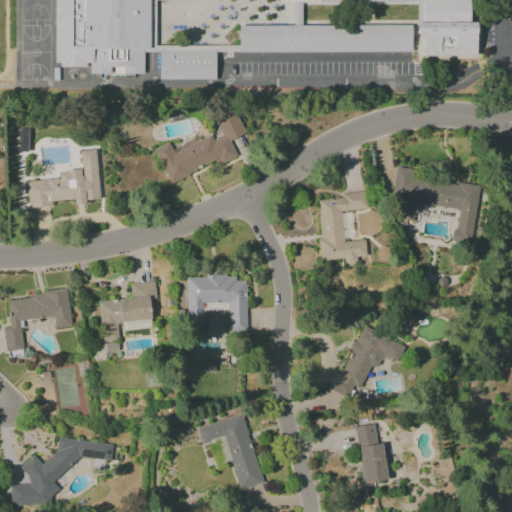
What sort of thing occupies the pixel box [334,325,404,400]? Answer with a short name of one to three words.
house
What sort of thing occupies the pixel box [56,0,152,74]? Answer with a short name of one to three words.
building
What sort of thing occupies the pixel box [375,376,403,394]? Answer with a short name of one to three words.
swimming pool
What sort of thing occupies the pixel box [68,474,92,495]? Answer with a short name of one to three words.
swimming pool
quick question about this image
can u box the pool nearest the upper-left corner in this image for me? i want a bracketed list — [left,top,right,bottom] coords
[42,146,72,166]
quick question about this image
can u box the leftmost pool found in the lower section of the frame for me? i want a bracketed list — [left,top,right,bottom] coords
[31,328,58,354]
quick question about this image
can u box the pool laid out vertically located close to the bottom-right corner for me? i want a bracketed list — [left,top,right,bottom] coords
[418,432,432,459]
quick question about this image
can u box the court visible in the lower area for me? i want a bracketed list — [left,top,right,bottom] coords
[54,364,88,414]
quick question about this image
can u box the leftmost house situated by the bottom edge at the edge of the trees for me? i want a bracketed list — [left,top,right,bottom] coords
[12,438,115,503]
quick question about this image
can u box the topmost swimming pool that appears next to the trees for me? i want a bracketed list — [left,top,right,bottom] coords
[164,119,192,138]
